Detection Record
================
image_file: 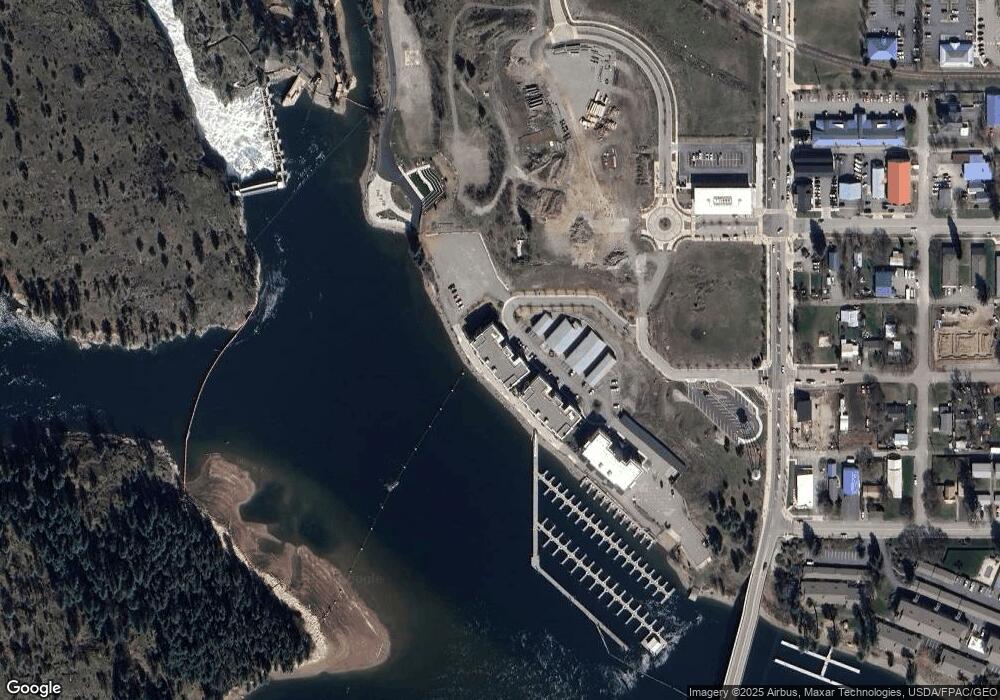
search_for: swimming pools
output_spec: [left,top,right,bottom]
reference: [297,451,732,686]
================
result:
[977,556,1000,587]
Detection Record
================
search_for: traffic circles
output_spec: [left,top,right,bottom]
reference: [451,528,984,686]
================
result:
[641,198,691,253]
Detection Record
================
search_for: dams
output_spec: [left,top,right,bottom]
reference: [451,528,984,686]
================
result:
[232,85,291,198]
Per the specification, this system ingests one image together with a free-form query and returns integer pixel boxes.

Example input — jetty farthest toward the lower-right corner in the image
[774,640,866,697]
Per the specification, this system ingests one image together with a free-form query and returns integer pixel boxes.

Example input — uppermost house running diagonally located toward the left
[282,75,308,107]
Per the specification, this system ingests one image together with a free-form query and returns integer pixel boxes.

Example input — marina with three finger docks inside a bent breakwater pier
[531,429,676,649]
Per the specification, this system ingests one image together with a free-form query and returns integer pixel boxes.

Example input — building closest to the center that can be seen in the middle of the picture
[471,326,529,390]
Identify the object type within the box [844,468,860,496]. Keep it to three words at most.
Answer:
building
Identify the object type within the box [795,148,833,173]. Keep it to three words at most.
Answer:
house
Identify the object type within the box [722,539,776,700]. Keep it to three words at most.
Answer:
bridge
